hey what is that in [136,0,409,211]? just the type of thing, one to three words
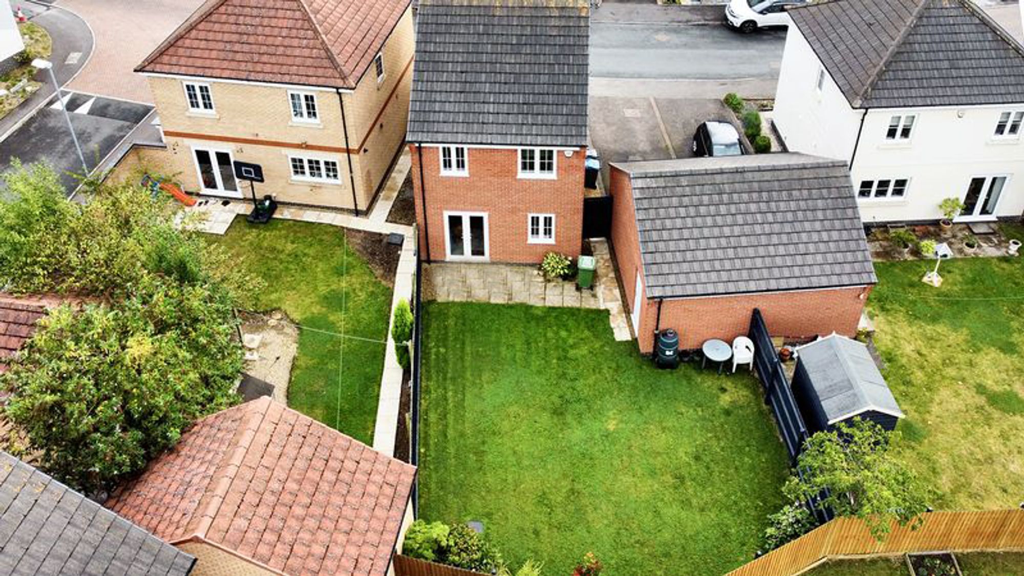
house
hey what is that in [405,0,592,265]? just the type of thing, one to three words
house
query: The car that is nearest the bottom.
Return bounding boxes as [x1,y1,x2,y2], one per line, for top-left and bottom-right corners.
[694,119,750,158]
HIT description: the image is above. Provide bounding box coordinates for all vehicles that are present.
[722,0,799,34]
[694,119,750,158]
